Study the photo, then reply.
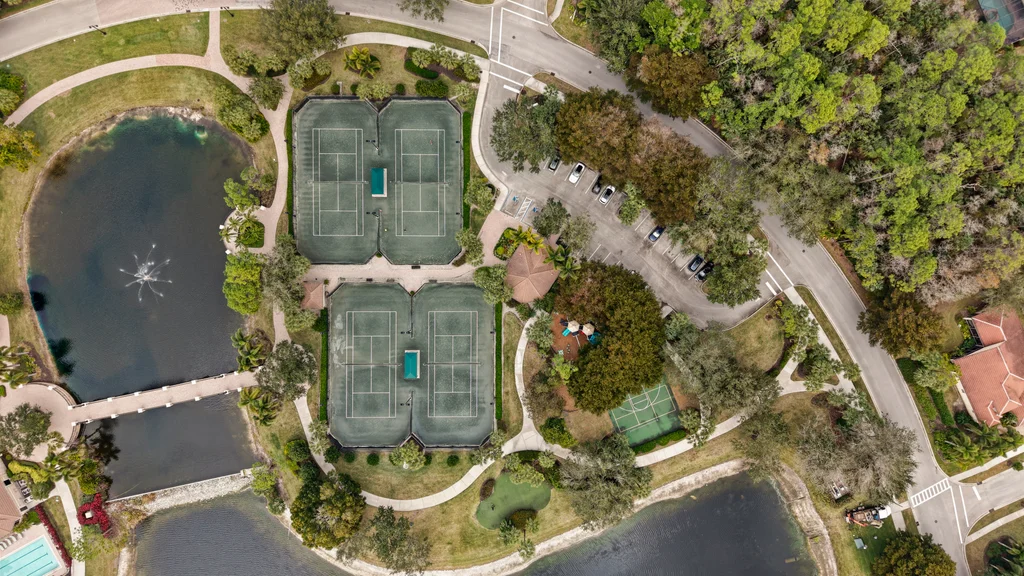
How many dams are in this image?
1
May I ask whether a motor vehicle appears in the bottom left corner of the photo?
No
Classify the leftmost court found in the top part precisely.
tennis court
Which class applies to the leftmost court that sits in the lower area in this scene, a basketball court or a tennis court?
tennis court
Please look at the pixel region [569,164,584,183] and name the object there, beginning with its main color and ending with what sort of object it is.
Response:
white car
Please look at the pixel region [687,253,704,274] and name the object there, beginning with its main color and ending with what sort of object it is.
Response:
gray car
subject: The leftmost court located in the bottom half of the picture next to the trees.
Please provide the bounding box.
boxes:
[329,284,411,446]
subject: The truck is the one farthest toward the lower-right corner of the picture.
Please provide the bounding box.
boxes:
[845,508,894,530]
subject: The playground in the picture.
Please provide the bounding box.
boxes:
[560,318,601,346]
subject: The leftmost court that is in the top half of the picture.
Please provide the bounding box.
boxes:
[298,101,379,263]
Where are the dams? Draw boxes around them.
[103,465,255,517]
